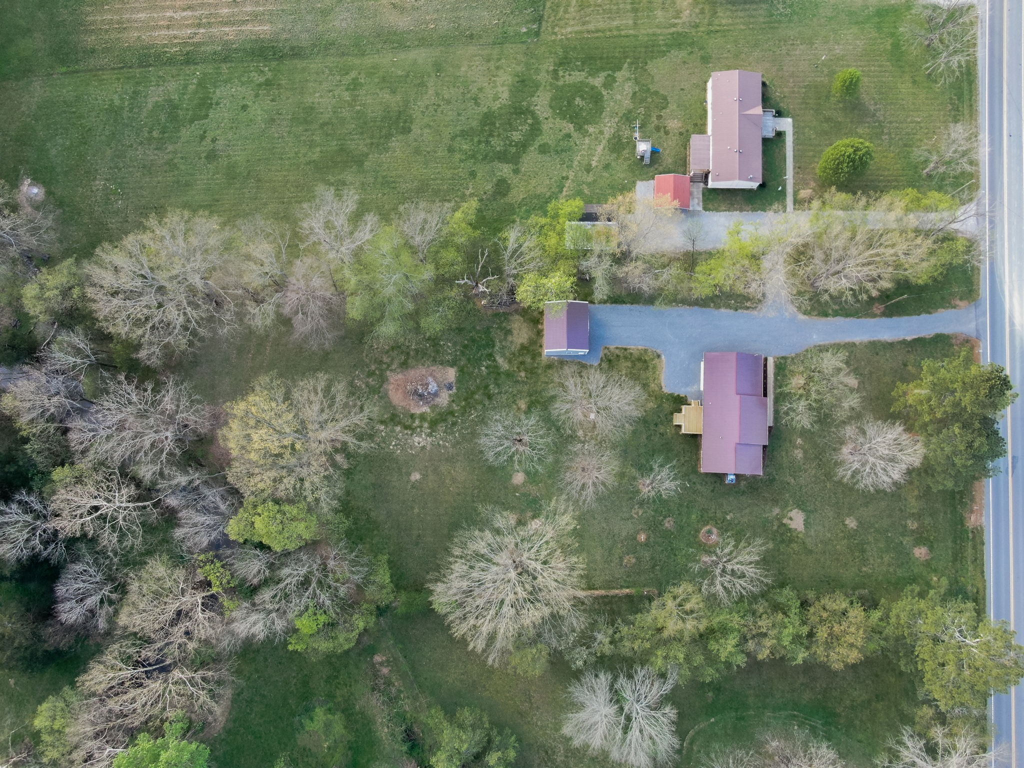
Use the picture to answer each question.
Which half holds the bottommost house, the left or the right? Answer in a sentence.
You can find the bottommost house on the right side of the picture.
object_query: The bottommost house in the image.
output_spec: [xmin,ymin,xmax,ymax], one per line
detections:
[673,351,769,473]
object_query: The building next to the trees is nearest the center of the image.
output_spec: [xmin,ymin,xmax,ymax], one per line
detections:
[544,300,588,354]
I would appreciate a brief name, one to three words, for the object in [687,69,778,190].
house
